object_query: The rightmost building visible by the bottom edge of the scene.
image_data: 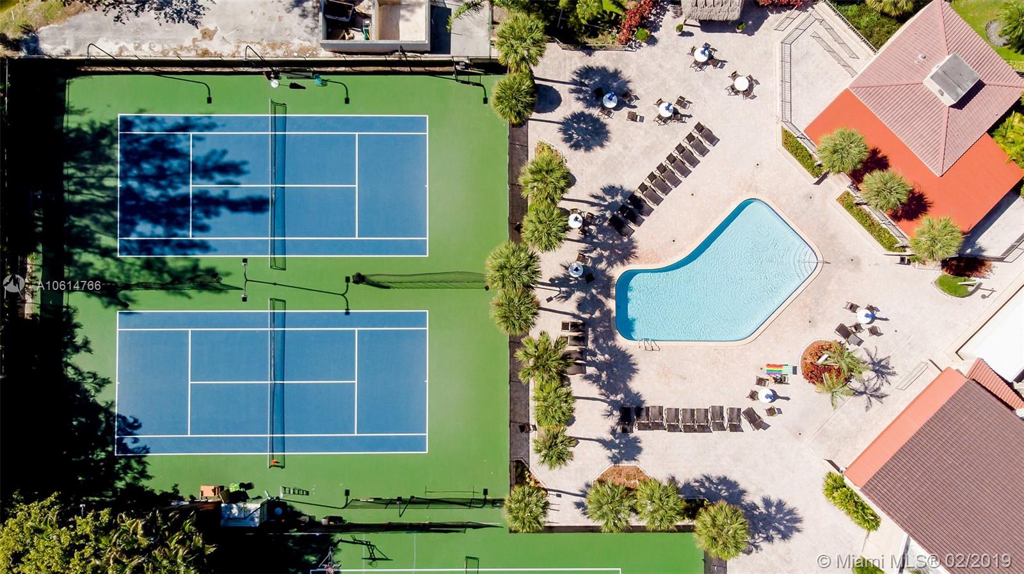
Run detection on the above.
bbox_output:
[842,367,1024,574]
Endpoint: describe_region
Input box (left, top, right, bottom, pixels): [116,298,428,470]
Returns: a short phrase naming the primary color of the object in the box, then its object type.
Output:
blue tennis court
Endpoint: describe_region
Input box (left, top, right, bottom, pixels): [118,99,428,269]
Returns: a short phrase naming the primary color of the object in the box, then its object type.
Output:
blue tennis court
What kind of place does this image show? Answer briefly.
sports ground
